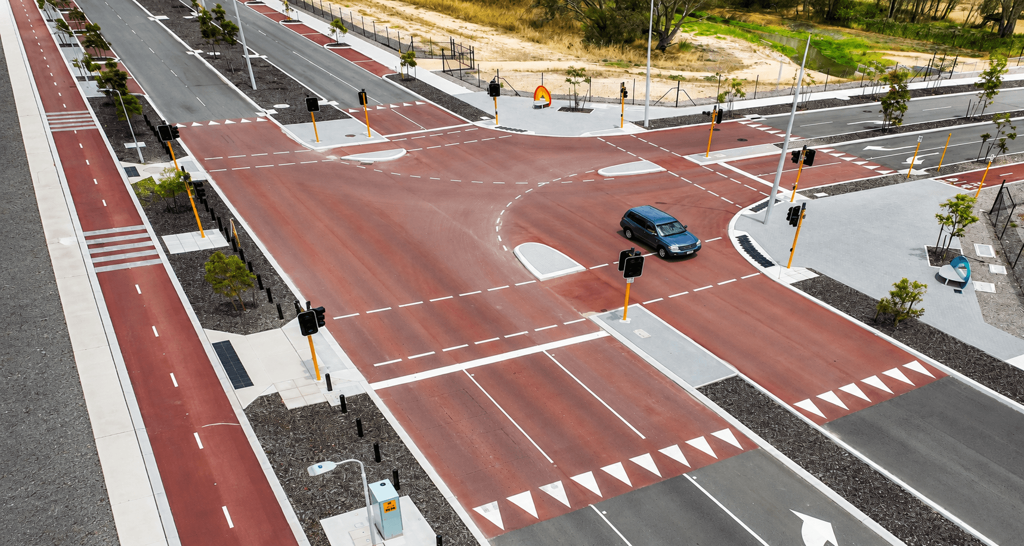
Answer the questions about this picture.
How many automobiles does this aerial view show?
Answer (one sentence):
The picture shows 1 automobile.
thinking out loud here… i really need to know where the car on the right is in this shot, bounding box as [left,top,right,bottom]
[621,202,702,259]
